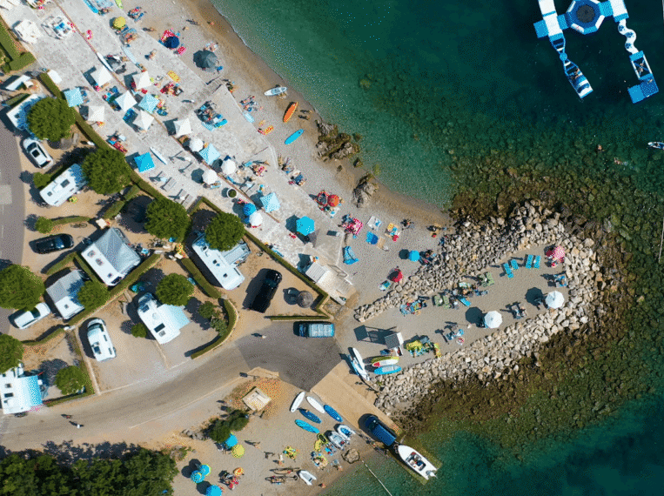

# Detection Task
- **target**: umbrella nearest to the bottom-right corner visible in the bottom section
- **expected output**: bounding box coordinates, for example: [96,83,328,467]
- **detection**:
[545,290,564,309]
